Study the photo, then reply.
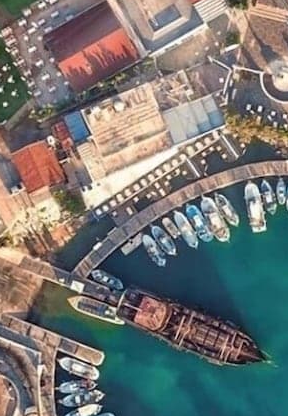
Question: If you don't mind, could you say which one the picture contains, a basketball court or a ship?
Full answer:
Visible in the photo is a ship.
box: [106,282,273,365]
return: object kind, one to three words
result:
ship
